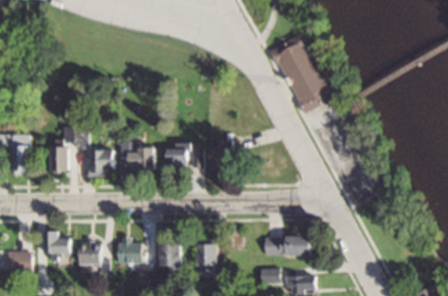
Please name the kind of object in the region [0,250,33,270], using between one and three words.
house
